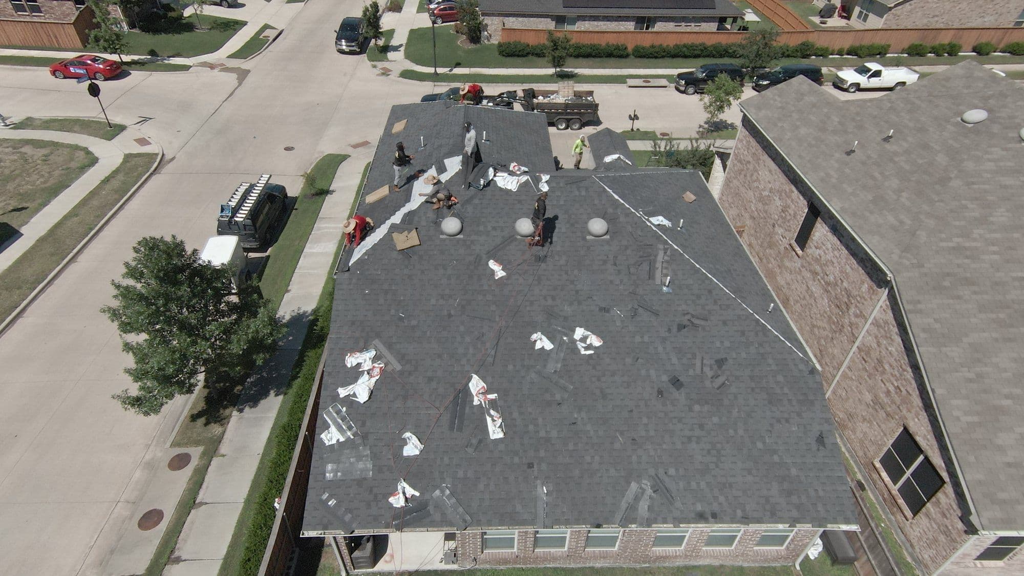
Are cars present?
Yes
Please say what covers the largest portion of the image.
buildings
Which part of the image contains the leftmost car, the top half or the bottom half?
top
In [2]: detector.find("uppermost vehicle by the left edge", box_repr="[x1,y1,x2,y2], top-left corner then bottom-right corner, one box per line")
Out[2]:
[46,53,125,83]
